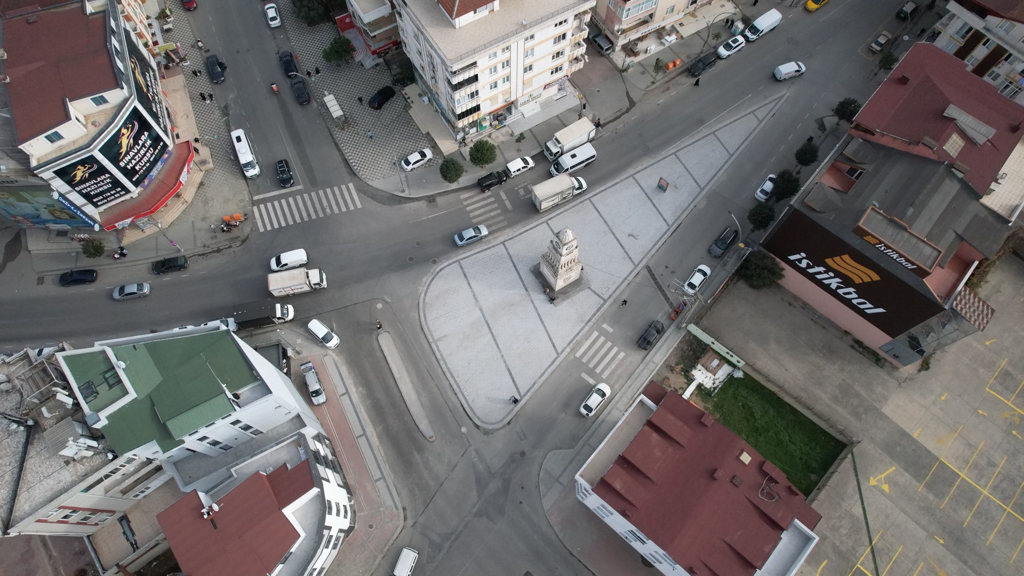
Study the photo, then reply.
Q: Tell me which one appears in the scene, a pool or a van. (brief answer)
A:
van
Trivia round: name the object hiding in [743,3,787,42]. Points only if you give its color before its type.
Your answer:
white van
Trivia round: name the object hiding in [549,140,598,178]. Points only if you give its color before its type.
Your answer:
white vehicle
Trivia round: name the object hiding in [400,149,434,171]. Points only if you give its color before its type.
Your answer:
white car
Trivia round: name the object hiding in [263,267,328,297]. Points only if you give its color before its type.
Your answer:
white truck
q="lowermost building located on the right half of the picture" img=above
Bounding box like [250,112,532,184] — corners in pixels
[566,381,821,576]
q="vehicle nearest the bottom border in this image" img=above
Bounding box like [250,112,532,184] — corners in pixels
[391,535,427,576]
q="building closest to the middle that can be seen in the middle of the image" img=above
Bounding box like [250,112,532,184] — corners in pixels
[530,228,591,307]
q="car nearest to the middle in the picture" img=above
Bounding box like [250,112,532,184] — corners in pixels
[454,226,489,248]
